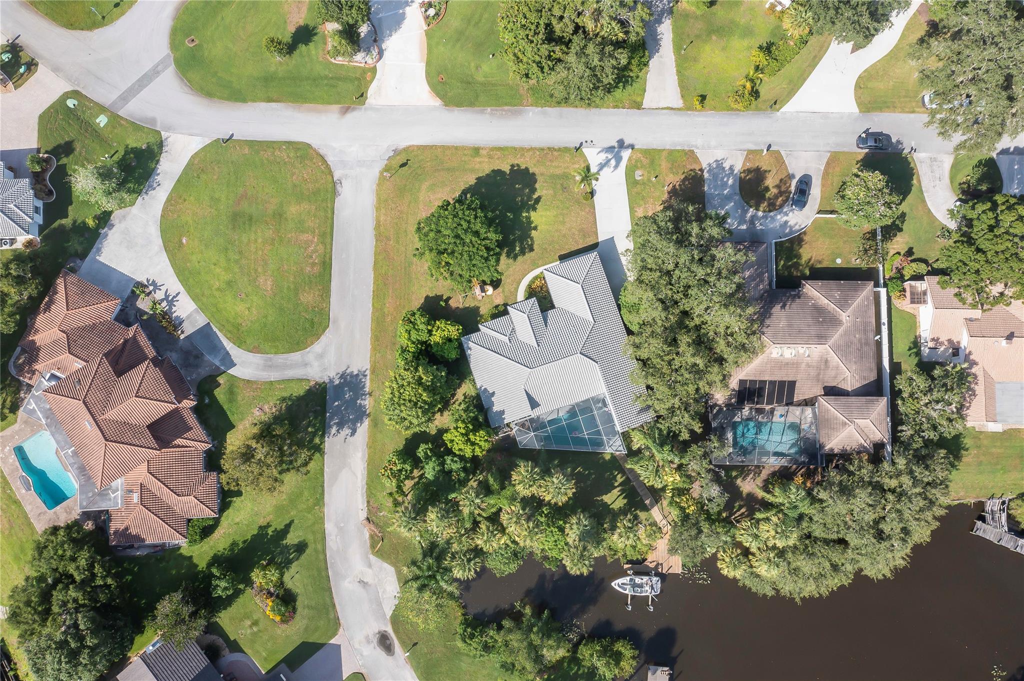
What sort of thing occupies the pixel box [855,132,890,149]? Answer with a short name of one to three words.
car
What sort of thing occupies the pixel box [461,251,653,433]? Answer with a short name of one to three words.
house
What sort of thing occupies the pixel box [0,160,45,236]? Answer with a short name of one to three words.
house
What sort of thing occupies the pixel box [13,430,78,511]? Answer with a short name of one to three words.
swimming pool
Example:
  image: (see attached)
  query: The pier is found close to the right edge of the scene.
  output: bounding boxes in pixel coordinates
[967,498,1024,555]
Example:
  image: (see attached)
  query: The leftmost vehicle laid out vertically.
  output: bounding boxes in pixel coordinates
[791,174,811,211]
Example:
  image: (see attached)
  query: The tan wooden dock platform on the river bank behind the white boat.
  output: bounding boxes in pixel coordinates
[623,526,682,575]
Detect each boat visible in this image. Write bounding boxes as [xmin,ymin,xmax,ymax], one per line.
[611,576,661,598]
